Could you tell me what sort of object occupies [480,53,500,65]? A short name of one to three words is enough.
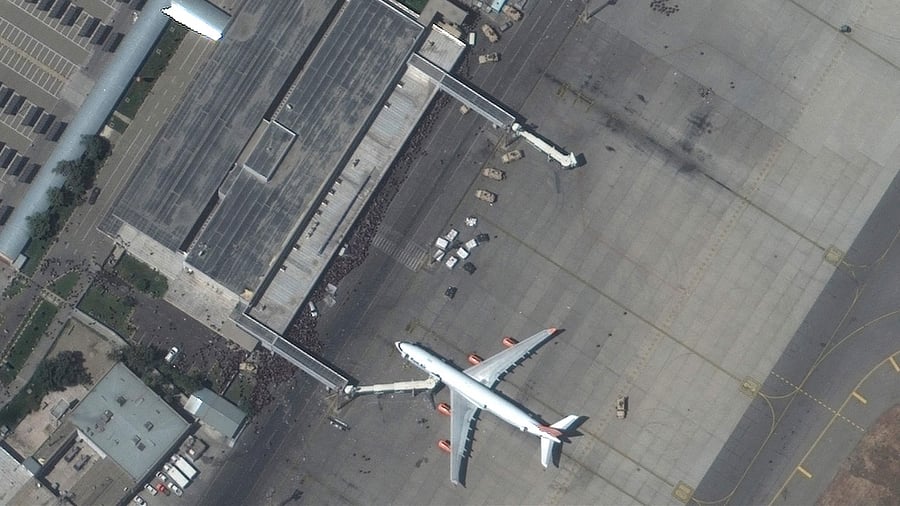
vehicle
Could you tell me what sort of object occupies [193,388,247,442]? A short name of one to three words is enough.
building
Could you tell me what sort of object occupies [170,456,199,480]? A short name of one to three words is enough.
truck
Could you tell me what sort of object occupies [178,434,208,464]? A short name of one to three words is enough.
shed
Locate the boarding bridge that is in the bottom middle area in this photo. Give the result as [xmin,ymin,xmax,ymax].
[345,372,442,400]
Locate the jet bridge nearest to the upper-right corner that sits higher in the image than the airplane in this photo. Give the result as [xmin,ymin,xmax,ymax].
[511,124,578,168]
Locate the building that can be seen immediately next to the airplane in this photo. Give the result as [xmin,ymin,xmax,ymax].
[97,0,467,354]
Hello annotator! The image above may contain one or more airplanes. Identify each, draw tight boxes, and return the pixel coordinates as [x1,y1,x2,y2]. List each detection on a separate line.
[395,329,579,486]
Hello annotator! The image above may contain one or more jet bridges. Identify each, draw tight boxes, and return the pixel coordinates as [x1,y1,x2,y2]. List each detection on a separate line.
[345,372,442,400]
[511,124,578,168]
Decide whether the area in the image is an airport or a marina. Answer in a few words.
airport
